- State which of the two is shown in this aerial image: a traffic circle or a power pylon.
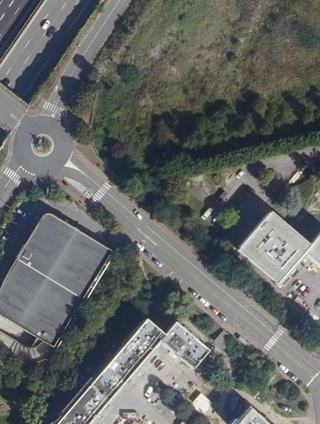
traffic circle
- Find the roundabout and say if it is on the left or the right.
left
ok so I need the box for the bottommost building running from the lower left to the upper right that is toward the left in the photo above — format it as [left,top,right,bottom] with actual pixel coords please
[55,316,164,424]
